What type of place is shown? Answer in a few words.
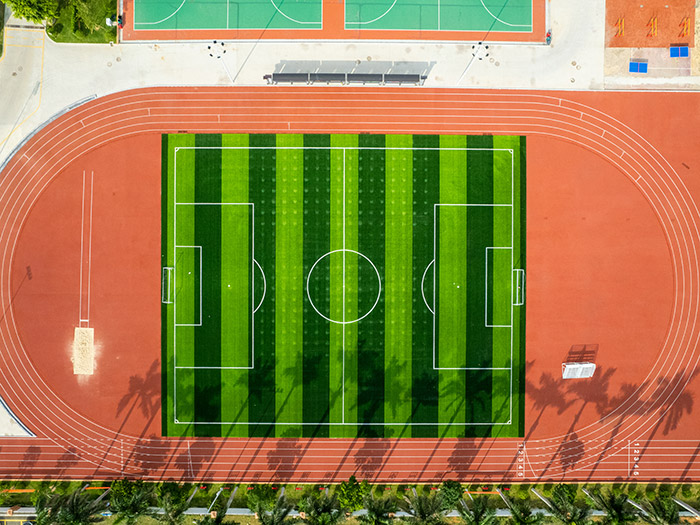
sports ground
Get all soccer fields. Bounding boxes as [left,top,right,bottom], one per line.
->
[161,134,526,438]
